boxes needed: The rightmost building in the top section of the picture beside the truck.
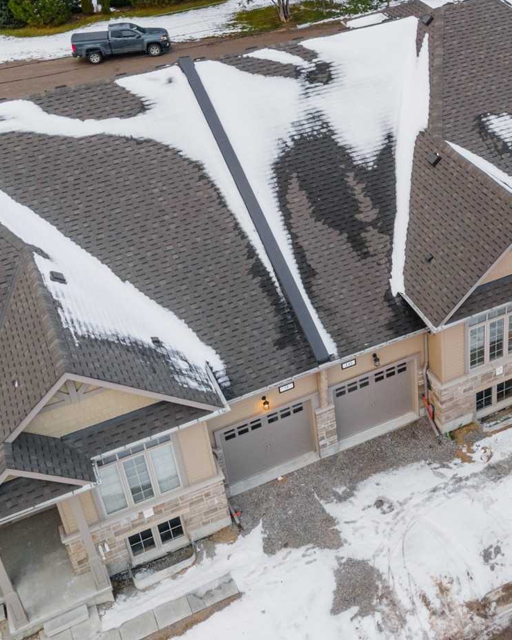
[173,0,512,452]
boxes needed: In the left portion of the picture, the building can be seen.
[0,64,340,640]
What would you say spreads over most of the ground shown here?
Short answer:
buildings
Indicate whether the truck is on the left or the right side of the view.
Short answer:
left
